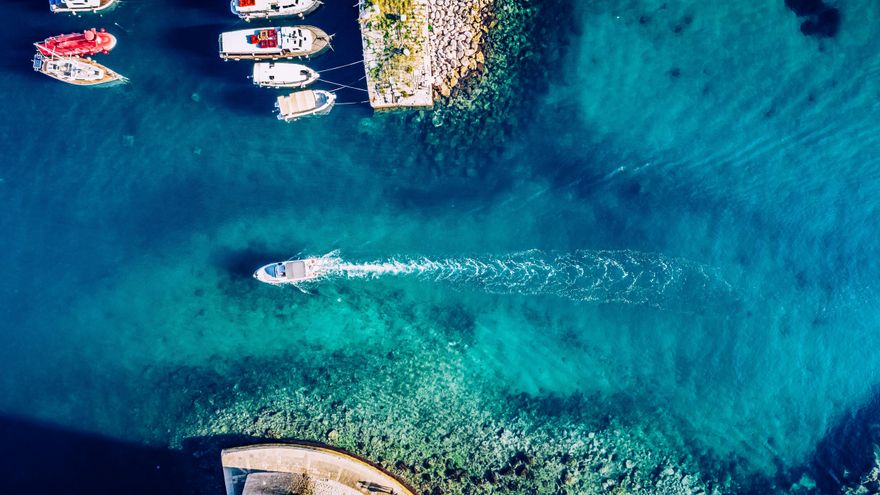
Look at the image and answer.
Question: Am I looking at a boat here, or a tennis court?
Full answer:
Looking from above, you can make out a boat.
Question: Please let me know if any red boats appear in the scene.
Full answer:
Yes, a red boat can be made out from above.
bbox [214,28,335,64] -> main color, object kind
white boat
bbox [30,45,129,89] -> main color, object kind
white boat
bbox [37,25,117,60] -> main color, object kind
red boat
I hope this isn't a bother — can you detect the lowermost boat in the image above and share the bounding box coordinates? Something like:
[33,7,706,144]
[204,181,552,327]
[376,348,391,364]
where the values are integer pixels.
[253,256,327,281]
